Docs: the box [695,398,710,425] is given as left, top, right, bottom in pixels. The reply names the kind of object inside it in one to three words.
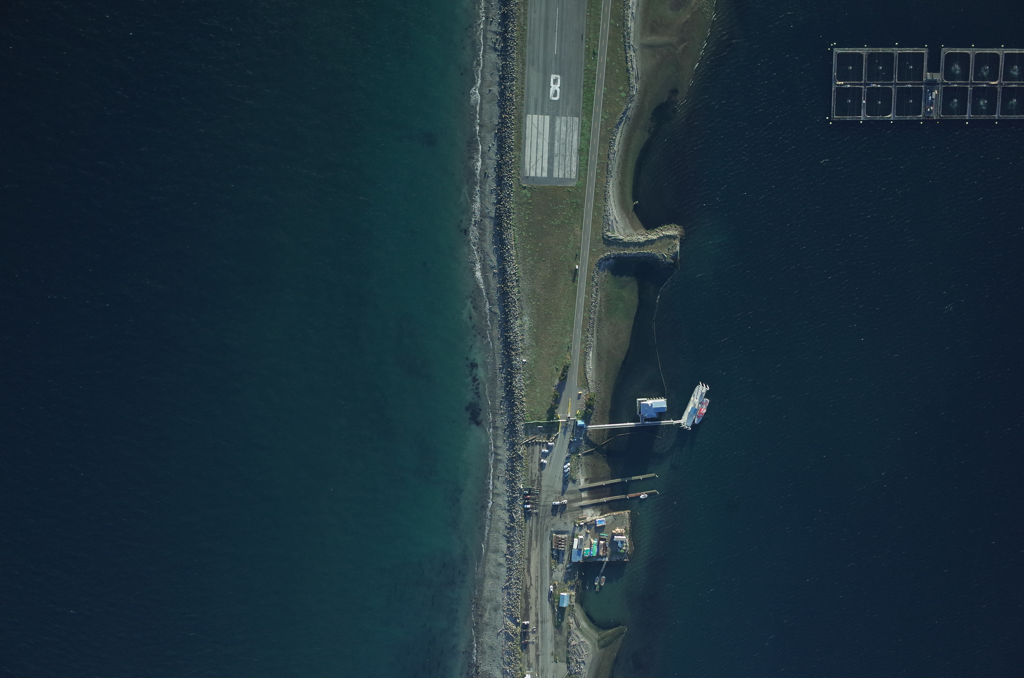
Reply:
boat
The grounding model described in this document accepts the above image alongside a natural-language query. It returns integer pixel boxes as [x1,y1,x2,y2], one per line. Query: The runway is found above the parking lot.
[521,0,587,186]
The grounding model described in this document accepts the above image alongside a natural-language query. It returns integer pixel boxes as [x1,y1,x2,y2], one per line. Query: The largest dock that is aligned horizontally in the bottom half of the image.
[585,419,675,431]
